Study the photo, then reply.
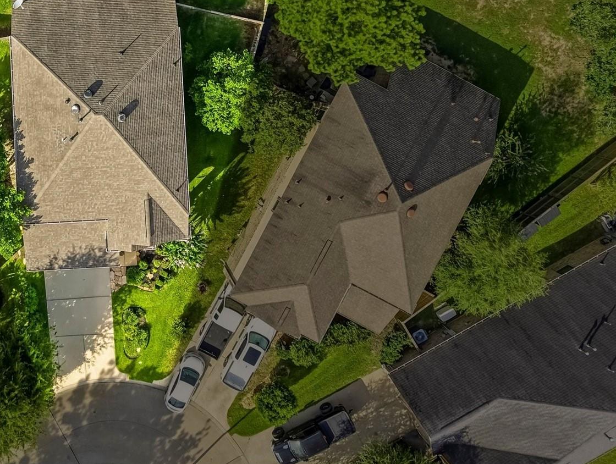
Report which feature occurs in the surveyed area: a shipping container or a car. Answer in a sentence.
Looking from above, you can make out a car.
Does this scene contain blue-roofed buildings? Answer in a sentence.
No, the frame has no blue-roofed building in it.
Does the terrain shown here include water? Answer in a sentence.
No, no water is visible.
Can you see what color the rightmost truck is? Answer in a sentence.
In this view, the rightmost truck is black.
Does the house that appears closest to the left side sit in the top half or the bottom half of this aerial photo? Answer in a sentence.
You can find the house that appears closest to the left side in the top half.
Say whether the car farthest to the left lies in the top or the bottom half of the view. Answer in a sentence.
Seen from above, the car farthest to the left lies in the bottom half of the view.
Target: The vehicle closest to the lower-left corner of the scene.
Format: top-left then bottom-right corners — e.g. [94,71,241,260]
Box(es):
[162,346,206,416]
